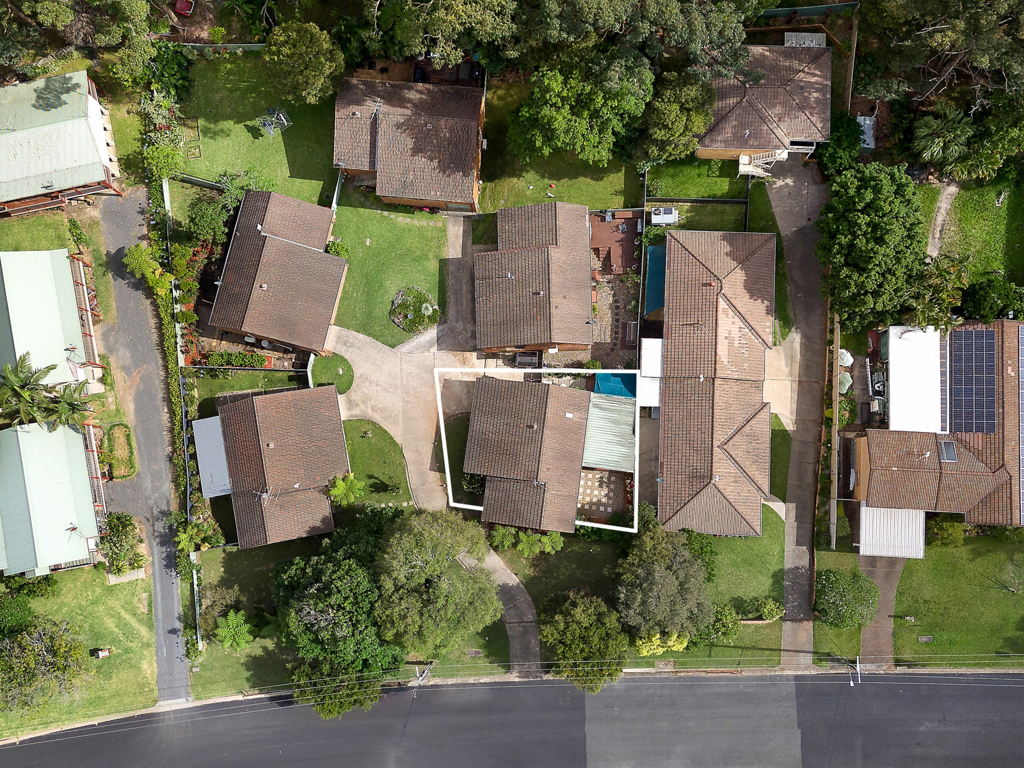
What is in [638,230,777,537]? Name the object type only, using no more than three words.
house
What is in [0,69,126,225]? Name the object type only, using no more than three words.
house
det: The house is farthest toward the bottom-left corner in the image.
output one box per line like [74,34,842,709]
[0,421,121,580]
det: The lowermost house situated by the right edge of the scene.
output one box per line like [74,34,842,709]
[849,319,1024,559]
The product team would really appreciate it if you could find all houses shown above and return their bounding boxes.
[0,421,121,580]
[208,191,348,352]
[849,319,1024,559]
[638,230,777,537]
[333,76,486,212]
[192,385,352,549]
[0,69,126,225]
[0,248,113,388]
[474,201,595,352]
[463,377,636,533]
